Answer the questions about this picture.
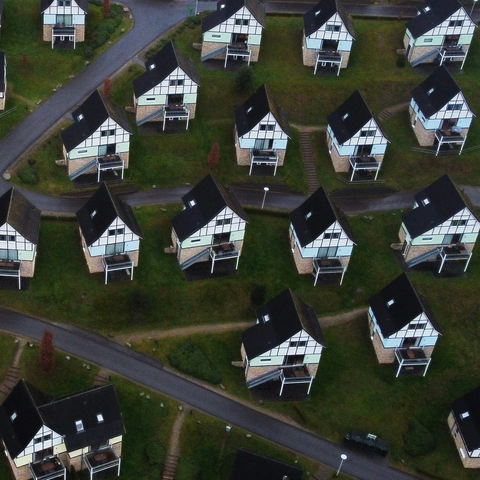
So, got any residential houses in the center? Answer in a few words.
Yes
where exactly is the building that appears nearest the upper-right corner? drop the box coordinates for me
[396,0,478,69]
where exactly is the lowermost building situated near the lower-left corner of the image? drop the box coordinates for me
[0,378,126,480]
